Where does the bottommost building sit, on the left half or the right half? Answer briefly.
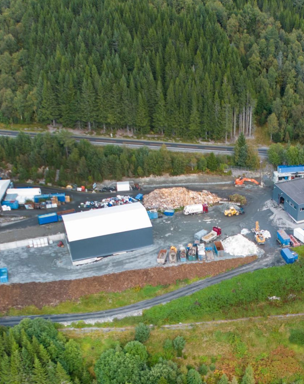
left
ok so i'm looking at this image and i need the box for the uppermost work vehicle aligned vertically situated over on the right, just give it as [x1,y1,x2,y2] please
[254,220,266,244]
